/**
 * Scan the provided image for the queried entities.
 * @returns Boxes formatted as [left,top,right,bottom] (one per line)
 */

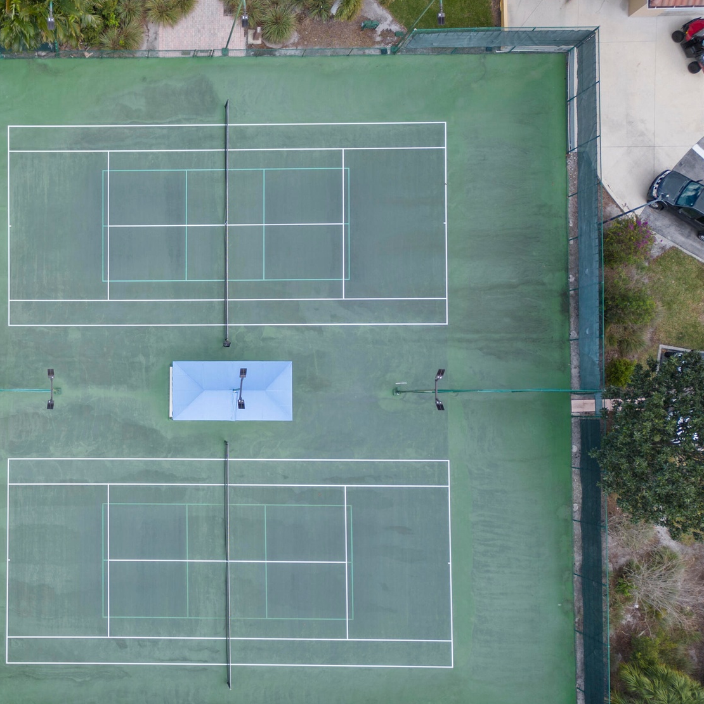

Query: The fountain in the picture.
[249,27,263,46]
